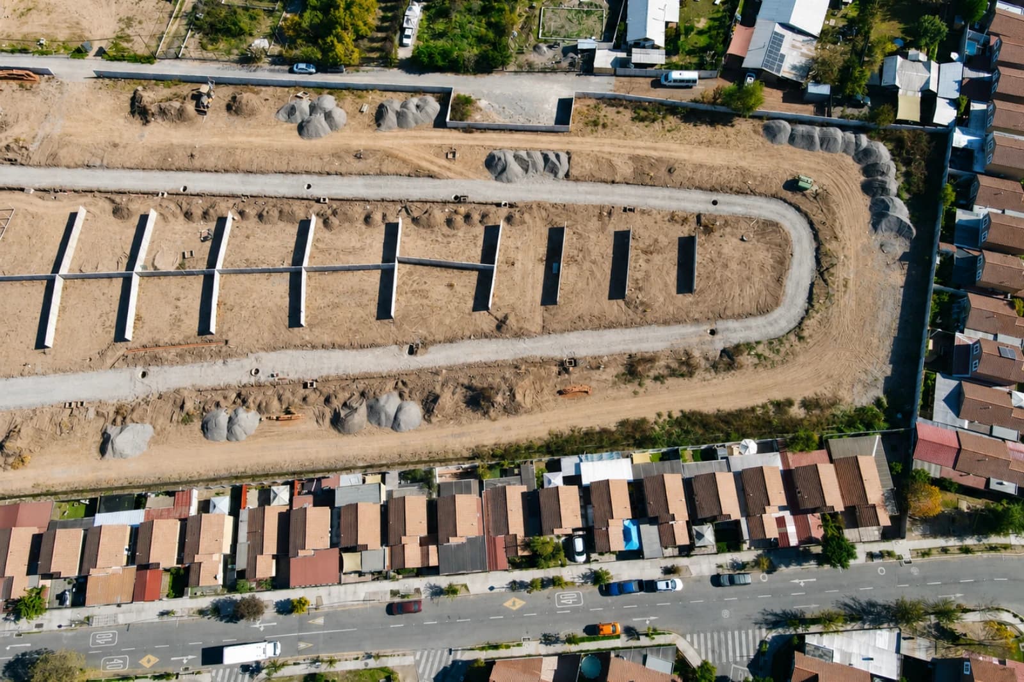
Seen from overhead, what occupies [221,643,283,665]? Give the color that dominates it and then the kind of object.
white vehicle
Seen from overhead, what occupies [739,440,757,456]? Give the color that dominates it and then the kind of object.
white umbrella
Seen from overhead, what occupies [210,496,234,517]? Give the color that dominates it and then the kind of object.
white gazebo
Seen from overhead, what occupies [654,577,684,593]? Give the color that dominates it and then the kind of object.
white car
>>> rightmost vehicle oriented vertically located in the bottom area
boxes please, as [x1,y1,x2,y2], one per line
[572,534,586,564]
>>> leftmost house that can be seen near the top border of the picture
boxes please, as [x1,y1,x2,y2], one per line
[627,0,665,53]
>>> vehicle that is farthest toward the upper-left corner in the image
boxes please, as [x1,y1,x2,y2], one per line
[196,80,215,114]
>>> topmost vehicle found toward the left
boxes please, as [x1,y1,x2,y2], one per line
[402,26,414,46]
